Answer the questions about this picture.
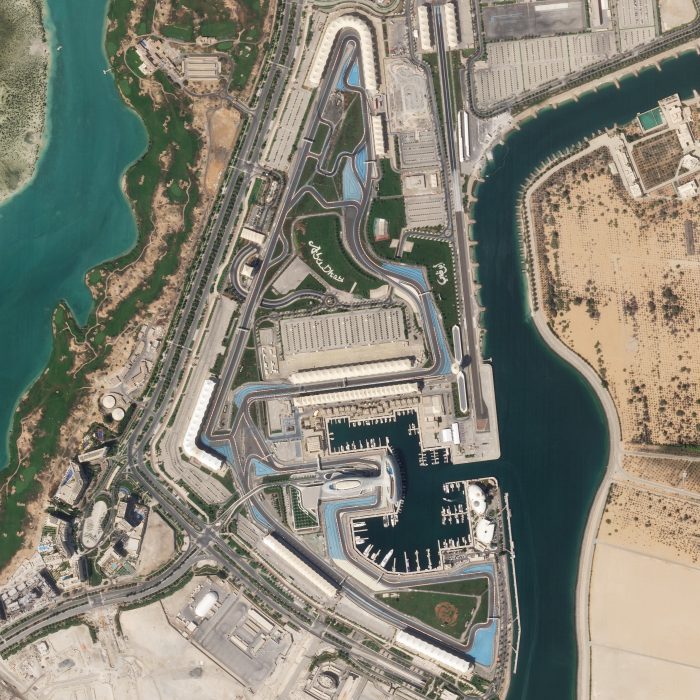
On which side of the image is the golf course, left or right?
left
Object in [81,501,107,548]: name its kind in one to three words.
building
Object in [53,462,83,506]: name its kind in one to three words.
building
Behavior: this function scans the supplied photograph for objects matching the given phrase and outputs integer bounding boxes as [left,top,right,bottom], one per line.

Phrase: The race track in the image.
[201,28,498,667]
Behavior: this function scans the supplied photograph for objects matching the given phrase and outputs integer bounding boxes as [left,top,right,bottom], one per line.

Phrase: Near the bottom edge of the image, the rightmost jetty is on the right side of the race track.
[502,494,519,672]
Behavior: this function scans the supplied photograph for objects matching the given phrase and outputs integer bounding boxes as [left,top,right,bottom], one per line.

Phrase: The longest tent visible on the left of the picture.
[196,593,218,617]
